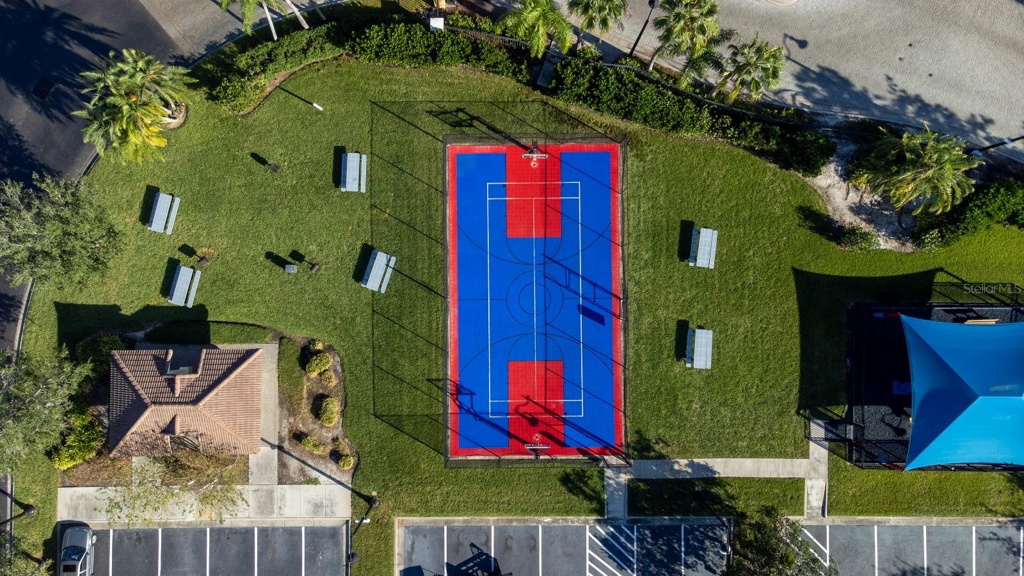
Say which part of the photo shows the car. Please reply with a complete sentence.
The car sits in the bottom left section of the image.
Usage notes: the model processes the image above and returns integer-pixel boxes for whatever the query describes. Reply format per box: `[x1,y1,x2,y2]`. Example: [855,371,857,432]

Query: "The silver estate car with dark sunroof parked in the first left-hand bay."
[58,525,102,576]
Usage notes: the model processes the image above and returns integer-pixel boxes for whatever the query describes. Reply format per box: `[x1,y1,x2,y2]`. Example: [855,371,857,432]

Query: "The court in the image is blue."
[445,139,626,459]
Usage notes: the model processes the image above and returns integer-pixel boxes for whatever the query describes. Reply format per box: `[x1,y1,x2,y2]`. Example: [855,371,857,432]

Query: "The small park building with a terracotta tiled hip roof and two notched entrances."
[108,348,264,458]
